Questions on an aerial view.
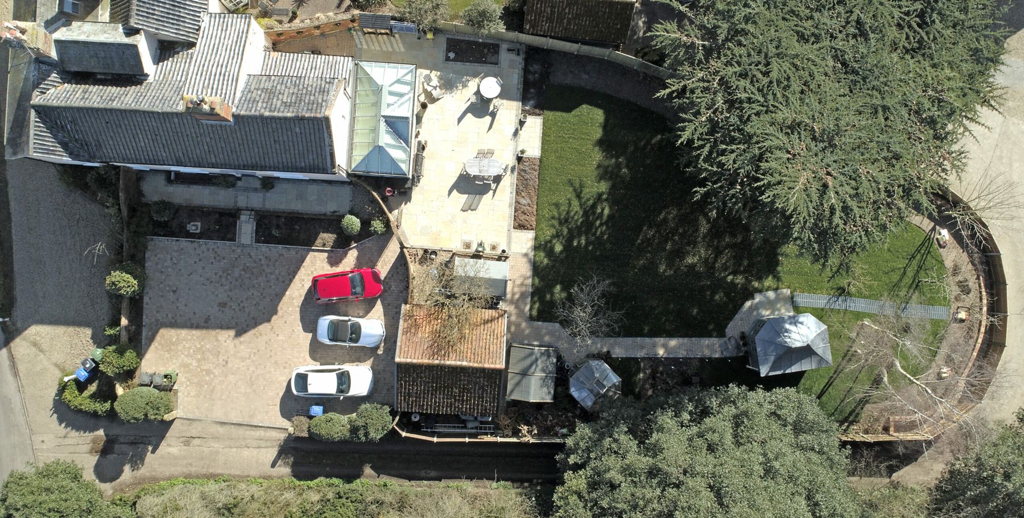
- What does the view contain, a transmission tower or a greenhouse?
greenhouse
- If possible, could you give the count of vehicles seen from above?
3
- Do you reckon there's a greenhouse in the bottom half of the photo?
Yes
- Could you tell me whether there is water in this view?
No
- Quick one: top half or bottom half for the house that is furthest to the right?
bottom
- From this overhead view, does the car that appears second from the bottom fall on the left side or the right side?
left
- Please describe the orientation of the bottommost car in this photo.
horizontally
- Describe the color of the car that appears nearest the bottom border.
white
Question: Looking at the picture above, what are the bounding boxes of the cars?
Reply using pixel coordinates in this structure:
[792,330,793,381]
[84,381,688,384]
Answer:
[290,361,375,401]
[309,264,387,303]
[314,312,387,351]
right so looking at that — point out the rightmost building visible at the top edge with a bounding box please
[523,0,634,49]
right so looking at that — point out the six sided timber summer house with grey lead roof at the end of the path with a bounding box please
[747,312,833,377]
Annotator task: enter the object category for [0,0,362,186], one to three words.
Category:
house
